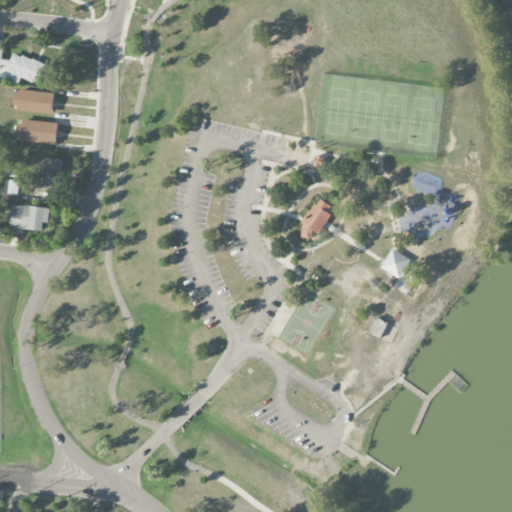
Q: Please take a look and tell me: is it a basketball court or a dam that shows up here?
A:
basketball court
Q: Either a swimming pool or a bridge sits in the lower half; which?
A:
bridge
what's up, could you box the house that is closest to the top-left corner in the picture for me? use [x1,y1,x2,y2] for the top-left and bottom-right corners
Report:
[0,53,44,85]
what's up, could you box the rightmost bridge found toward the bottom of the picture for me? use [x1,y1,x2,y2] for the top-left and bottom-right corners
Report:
[170,384,216,428]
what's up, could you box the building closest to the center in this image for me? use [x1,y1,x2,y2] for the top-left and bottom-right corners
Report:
[300,200,332,240]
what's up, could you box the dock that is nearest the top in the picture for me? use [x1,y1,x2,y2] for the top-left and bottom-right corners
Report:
[403,370,456,434]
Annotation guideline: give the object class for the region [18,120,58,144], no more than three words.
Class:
house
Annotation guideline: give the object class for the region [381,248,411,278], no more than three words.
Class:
building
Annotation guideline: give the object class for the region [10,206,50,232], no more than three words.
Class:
house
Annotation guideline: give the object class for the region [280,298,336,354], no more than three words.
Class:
basketball court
